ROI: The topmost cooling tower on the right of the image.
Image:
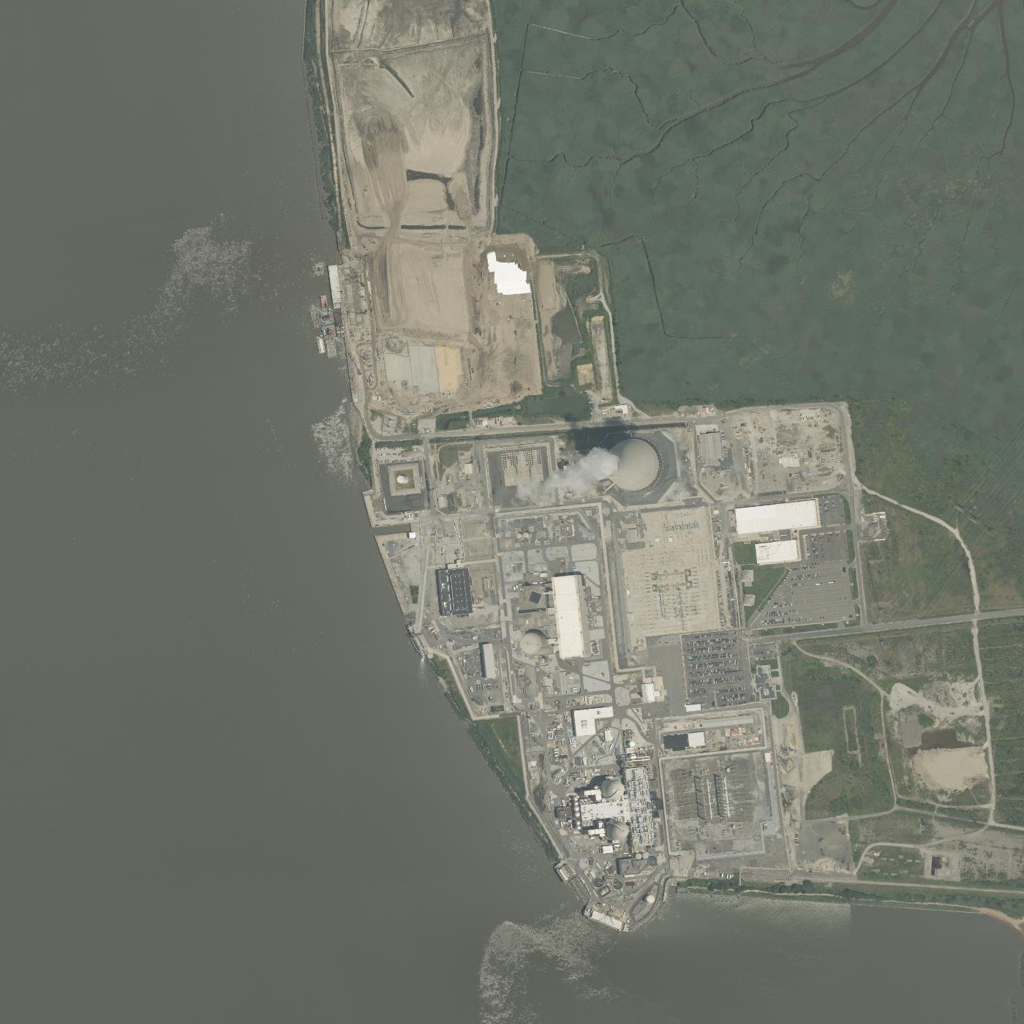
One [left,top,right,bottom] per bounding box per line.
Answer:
[593,436,664,492]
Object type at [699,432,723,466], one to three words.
building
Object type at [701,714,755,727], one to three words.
shed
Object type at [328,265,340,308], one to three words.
ship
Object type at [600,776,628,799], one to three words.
building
